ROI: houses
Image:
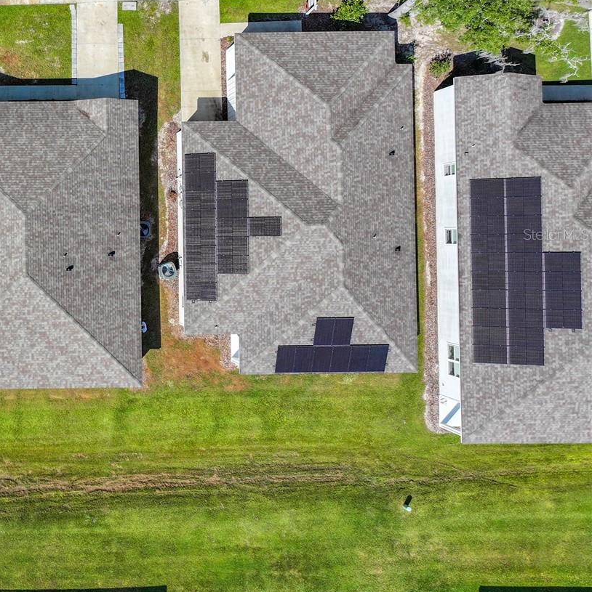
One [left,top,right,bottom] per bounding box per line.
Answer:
[0,98,143,389]
[178,30,418,376]
[437,75,592,447]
